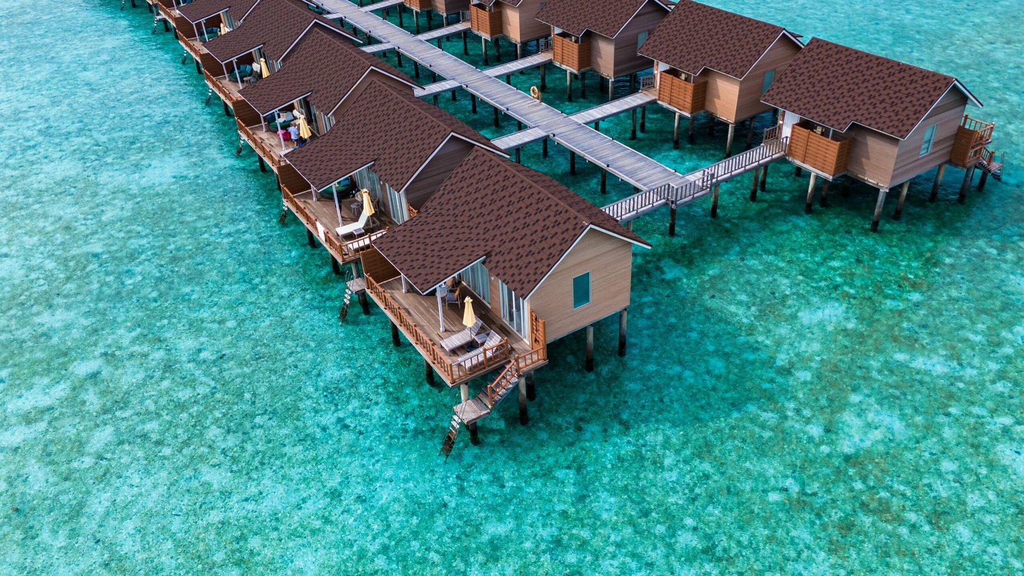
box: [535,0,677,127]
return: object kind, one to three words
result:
house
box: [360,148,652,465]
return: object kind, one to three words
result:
house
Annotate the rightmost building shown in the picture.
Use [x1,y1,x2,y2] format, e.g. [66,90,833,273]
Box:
[761,37,1003,248]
